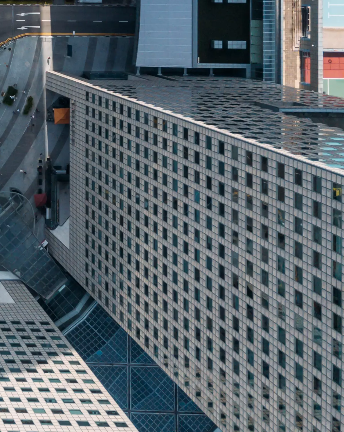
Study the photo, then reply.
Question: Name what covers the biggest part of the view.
buildings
